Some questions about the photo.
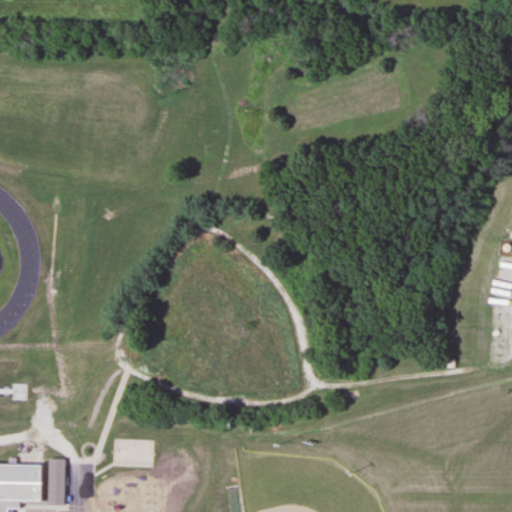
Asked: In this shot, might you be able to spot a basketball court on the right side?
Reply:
No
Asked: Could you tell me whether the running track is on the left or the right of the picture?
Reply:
left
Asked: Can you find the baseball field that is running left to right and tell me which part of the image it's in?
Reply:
bottom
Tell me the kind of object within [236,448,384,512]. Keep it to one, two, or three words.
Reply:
baseball field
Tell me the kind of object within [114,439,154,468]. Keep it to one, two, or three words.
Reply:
basketball court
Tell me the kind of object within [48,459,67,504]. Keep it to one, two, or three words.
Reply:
building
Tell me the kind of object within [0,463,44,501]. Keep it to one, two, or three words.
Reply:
building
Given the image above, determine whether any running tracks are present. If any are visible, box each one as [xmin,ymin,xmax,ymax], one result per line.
[0,190,40,334]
